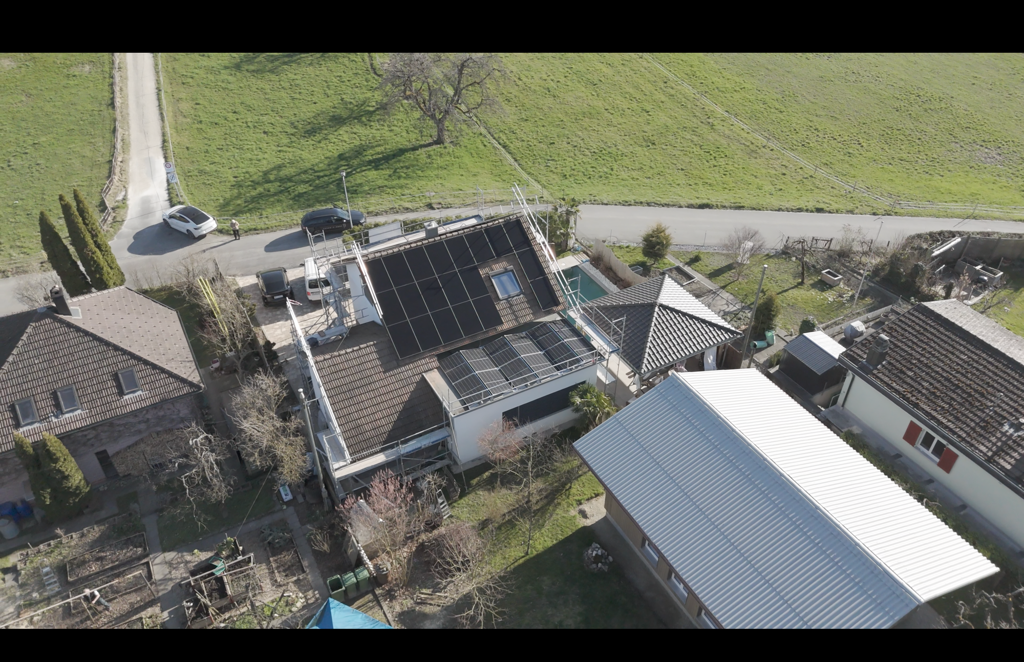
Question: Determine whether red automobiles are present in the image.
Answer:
No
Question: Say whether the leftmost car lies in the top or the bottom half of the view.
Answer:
top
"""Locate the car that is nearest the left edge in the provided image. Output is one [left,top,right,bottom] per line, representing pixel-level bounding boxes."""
[160,207,216,240]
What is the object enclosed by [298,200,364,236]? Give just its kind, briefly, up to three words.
car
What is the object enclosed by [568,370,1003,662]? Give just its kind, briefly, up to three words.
shed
